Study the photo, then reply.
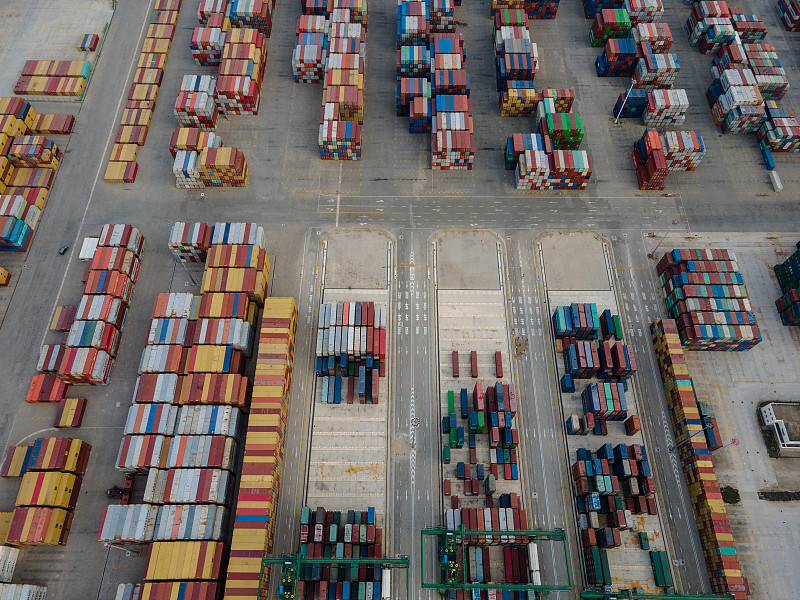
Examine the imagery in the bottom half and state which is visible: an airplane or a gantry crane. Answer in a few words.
gantry crane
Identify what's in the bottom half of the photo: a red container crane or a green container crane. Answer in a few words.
green container crane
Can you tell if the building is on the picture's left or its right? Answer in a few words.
right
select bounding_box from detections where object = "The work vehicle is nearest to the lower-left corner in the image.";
[104,476,134,505]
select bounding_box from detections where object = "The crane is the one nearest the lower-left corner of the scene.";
[259,550,410,600]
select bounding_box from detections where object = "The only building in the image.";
[753,402,800,451]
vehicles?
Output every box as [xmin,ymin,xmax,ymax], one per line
[104,476,134,505]
[383,564,390,598]
[529,537,541,585]
[57,246,67,255]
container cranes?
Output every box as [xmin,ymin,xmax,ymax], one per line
[259,550,410,600]
[580,585,736,600]
[421,522,574,596]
